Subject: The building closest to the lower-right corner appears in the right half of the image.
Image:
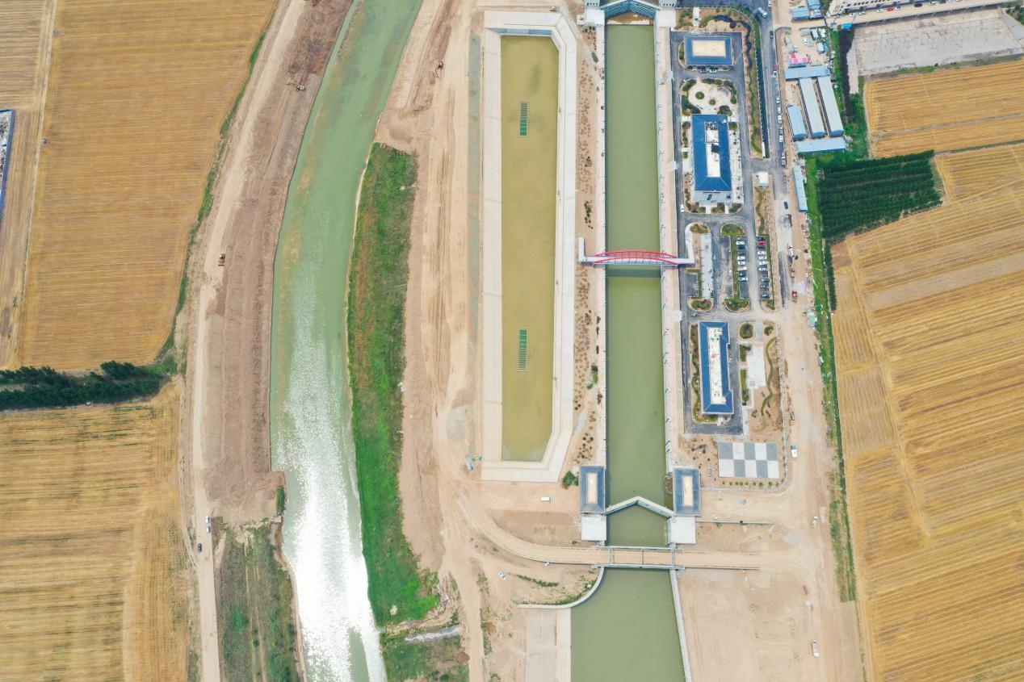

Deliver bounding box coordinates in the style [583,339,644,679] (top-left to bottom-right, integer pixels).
[673,468,702,516]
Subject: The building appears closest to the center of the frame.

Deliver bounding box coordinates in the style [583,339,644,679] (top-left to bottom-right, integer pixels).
[579,466,606,513]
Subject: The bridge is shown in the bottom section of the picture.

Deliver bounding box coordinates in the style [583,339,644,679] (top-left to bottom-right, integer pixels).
[593,546,685,570]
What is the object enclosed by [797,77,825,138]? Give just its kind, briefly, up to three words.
shed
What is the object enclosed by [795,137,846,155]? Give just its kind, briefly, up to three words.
shed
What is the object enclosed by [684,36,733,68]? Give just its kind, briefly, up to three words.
building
